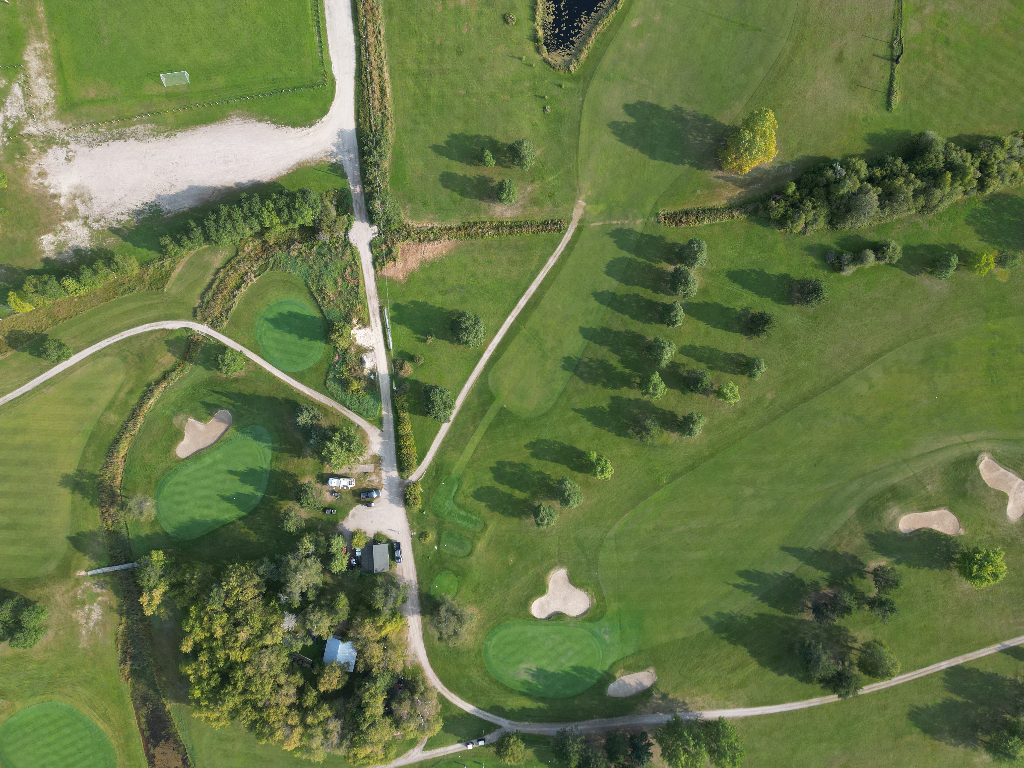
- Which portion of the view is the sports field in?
top left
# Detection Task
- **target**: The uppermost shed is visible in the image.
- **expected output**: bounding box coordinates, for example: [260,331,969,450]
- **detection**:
[361,543,389,573]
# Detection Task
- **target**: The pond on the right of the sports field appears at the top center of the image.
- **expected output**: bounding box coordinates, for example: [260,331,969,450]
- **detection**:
[544,0,618,61]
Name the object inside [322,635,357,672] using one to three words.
house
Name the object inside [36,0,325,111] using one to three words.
sports field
